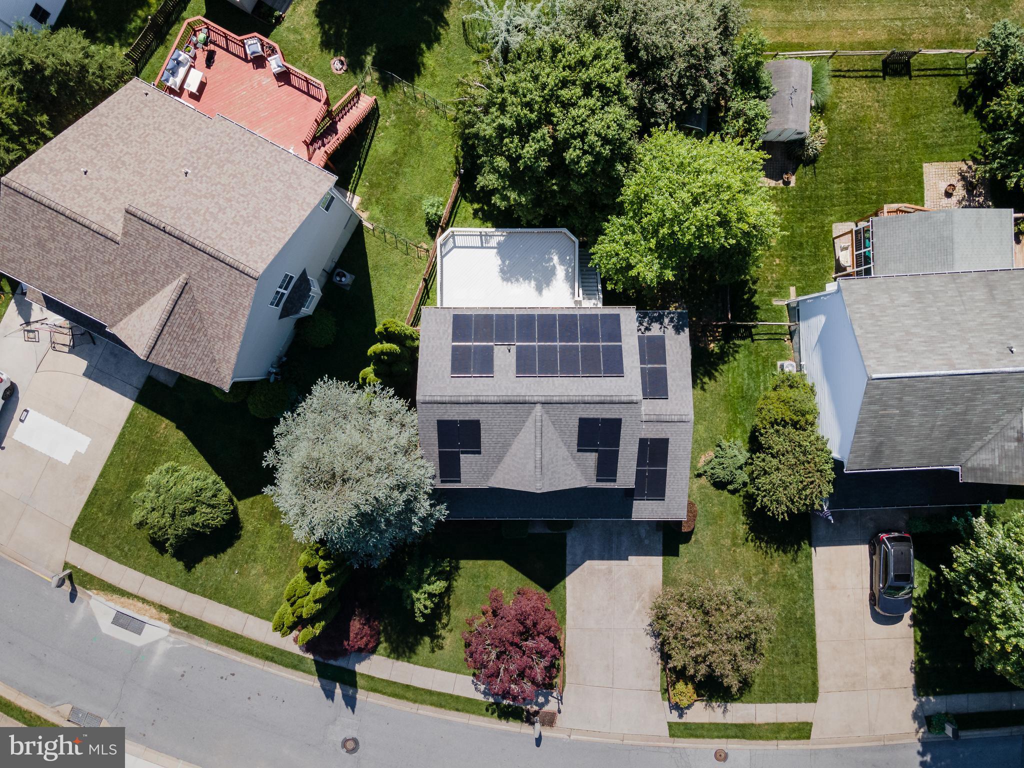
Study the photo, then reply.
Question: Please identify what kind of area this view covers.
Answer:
residential area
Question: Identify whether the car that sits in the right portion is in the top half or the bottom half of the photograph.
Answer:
bottom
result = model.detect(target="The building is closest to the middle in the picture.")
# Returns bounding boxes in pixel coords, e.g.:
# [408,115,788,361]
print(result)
[416,305,695,522]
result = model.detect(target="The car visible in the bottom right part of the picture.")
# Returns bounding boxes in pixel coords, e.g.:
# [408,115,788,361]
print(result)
[872,529,919,616]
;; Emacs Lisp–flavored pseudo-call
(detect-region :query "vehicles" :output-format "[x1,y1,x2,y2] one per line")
[0,371,14,411]
[872,529,919,616]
